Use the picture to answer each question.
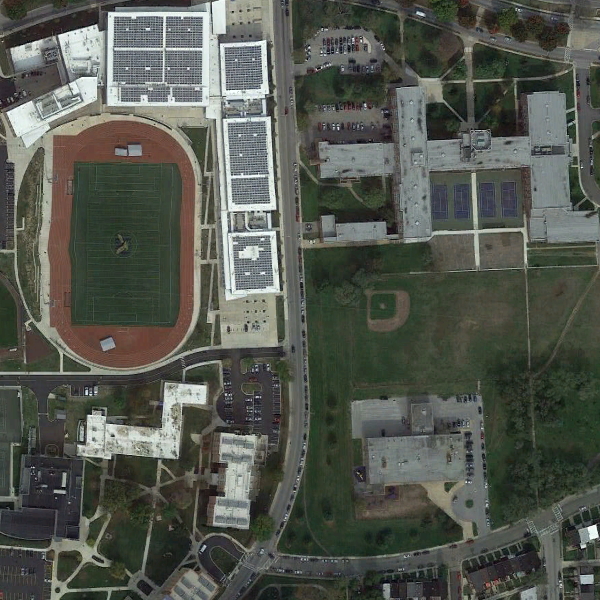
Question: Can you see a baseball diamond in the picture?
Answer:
Yes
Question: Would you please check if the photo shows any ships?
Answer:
No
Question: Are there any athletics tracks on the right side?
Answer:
No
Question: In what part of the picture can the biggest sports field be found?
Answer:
left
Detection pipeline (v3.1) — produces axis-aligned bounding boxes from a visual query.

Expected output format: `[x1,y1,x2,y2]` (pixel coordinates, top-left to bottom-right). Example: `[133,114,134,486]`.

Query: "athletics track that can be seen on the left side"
[48,121,195,367]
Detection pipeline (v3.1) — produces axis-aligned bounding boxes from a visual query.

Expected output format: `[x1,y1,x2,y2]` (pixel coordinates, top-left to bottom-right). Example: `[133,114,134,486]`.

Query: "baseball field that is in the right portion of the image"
[365,290,410,332]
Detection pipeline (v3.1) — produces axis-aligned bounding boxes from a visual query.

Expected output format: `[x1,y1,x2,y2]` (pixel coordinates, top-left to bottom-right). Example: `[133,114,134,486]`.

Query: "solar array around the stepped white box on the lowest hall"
[233,236,273,289]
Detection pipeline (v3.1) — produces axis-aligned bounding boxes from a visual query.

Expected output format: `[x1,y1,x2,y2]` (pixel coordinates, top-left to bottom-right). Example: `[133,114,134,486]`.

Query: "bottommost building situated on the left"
[166,568,219,600]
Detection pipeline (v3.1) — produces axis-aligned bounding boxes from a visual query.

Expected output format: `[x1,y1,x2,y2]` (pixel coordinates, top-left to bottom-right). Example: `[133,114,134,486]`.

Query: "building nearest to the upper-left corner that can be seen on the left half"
[6,35,59,74]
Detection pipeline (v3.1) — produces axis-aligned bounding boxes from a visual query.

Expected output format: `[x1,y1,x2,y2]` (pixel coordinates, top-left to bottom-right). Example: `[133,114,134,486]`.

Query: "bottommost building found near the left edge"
[0,455,84,540]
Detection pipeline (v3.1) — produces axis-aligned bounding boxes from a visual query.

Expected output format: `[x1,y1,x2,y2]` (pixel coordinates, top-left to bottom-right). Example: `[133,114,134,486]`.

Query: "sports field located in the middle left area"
[69,163,182,327]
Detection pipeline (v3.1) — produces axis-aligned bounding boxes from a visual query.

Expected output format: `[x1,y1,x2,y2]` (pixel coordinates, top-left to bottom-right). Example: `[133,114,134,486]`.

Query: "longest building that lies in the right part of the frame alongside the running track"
[309,87,599,244]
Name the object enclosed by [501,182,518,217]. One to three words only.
tennis court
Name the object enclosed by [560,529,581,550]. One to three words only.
house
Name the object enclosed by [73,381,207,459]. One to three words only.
building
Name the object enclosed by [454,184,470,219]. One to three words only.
tennis court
